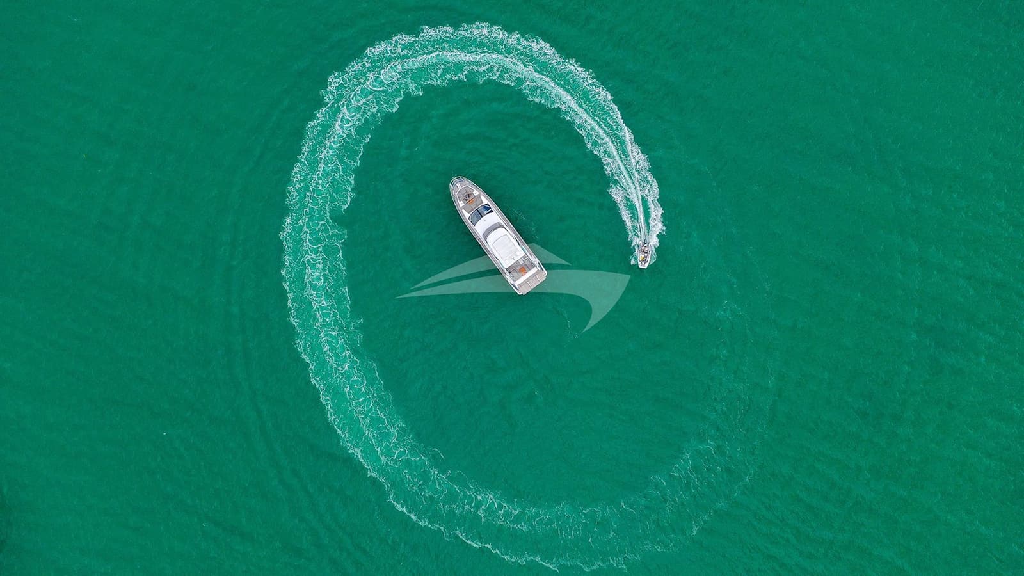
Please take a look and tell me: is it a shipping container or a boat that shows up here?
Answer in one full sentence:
I can see a boat in this picture.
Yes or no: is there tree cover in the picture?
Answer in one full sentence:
No, no tree cover is visible.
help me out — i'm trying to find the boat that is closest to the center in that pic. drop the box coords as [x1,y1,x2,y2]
[450,177,546,295]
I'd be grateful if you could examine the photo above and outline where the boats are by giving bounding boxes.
[638,238,652,268]
[450,177,546,295]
